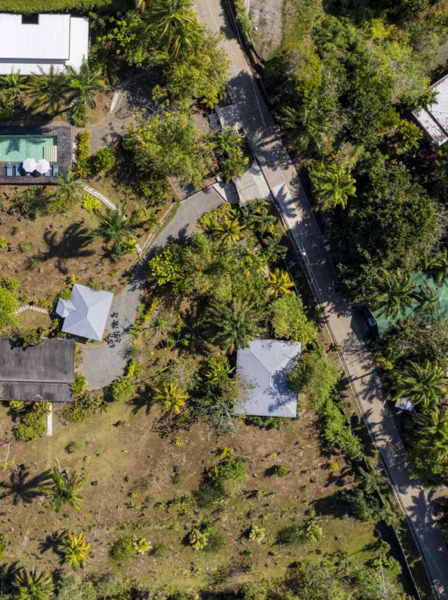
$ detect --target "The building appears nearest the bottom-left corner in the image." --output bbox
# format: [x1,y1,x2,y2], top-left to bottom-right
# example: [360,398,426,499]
[0,338,76,403]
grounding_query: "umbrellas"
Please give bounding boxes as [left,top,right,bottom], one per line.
[21,157,37,174]
[37,159,50,173]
